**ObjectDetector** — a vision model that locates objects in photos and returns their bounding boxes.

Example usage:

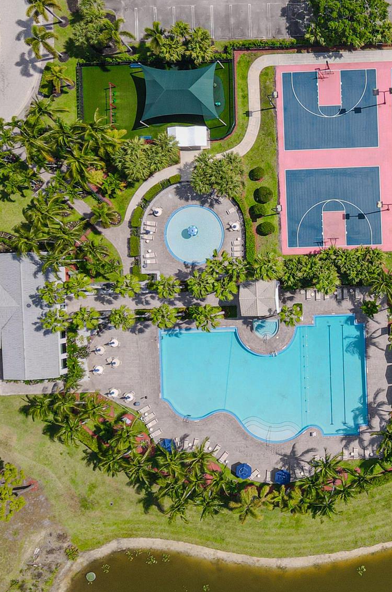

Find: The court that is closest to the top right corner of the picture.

[282,68,378,151]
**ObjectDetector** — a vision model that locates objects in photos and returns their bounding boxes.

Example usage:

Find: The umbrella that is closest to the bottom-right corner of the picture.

[275,469,292,484]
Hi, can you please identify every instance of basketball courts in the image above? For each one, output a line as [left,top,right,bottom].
[284,165,382,248]
[282,68,378,151]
